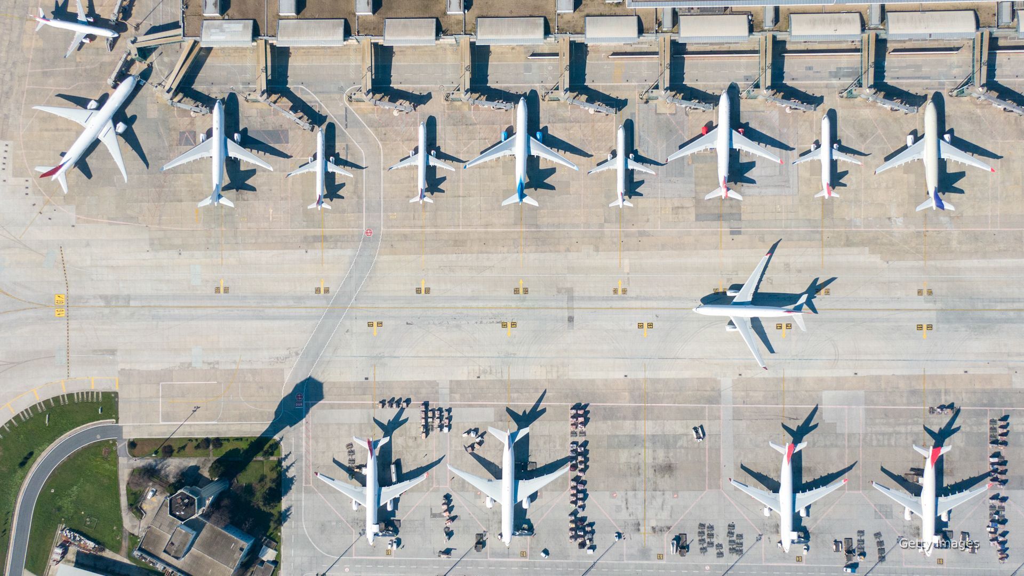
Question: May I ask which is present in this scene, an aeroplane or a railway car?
aeroplane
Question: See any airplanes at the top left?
Yes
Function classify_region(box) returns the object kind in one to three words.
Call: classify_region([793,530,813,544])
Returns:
work vehicle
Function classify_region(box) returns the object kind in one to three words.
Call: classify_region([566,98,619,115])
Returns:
jet bridge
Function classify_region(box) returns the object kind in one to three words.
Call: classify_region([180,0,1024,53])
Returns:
building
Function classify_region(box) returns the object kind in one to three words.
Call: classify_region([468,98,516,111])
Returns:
jet bridge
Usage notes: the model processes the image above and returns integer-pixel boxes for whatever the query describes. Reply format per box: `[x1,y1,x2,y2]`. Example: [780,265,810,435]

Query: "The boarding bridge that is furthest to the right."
[975,94,1024,118]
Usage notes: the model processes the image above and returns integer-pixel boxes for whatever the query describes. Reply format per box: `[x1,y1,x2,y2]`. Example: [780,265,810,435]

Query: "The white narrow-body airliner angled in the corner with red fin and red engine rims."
[29,0,118,57]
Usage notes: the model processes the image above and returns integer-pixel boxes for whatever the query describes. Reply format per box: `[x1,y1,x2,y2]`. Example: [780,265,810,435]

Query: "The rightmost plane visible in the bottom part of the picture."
[874,445,993,556]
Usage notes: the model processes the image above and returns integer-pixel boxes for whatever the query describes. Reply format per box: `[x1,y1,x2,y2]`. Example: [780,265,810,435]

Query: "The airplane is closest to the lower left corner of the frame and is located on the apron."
[315,437,426,545]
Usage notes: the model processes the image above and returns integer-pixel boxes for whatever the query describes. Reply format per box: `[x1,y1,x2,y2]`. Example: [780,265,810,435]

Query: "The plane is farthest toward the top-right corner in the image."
[876,99,996,212]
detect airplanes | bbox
[160,100,269,207]
[448,428,569,546]
[793,115,862,199]
[667,90,783,200]
[730,442,848,553]
[388,122,454,204]
[29,0,118,57]
[588,125,655,208]
[876,99,996,212]
[874,445,993,556]
[464,97,578,206]
[30,76,136,193]
[315,437,426,545]
[286,127,352,210]
[692,256,817,370]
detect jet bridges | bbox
[106,46,132,87]
[664,97,715,112]
[110,0,127,26]
[266,100,316,132]
[167,101,212,117]
[865,96,920,114]
[765,96,817,112]
[566,98,619,115]
[975,94,1024,118]
[468,98,516,111]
